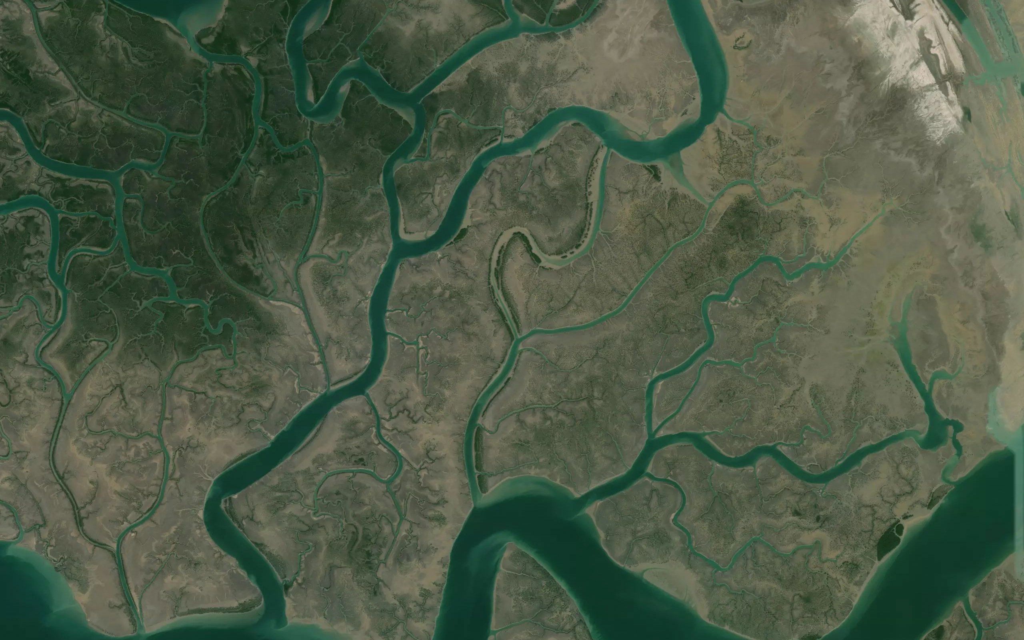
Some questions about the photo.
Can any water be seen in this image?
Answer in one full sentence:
Yes, water shows up in the scene.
